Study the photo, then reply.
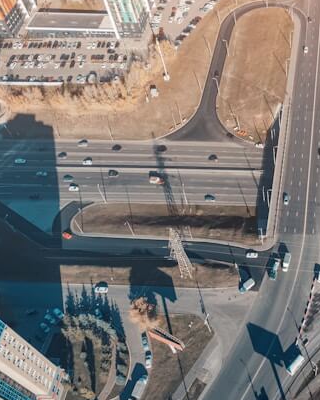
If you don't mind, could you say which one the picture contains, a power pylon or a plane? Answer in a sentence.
I can see a power pylon in this picture.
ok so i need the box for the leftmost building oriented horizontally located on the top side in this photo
[21,12,116,39]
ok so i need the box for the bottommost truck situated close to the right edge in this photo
[282,352,306,375]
